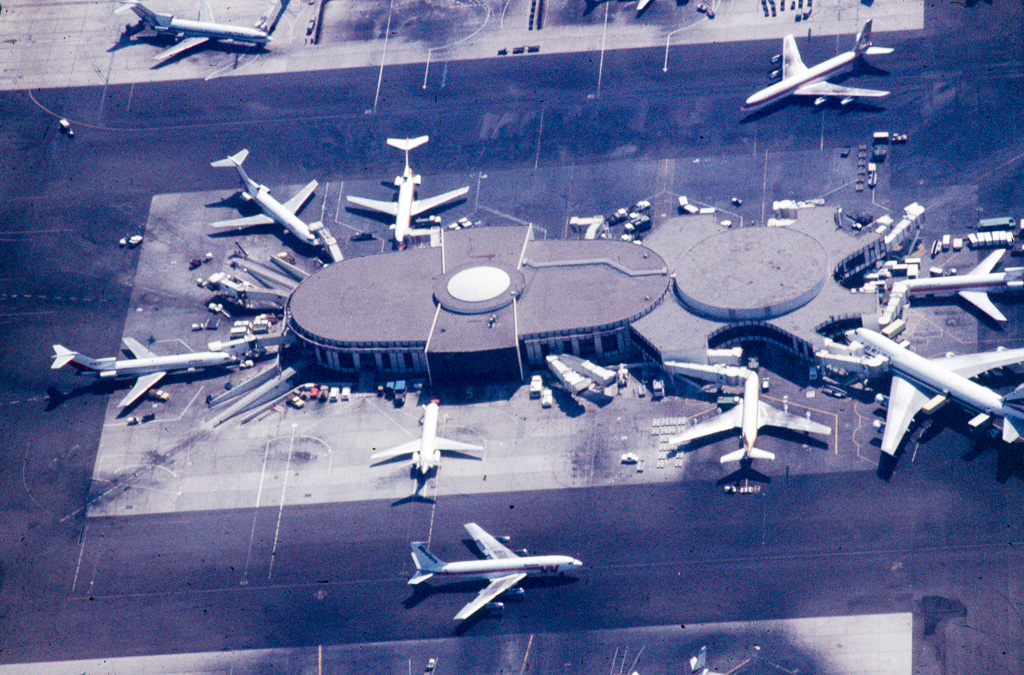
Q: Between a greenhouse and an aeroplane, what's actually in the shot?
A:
aeroplane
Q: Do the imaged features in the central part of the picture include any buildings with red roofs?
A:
No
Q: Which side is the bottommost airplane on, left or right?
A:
right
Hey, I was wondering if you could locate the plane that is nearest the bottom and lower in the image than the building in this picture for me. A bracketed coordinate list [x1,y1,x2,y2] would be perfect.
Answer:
[682,644,739,675]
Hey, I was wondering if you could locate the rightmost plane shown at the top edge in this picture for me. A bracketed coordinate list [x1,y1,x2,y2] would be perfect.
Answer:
[743,20,897,117]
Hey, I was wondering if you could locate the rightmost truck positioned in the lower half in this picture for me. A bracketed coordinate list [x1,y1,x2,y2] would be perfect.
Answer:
[962,416,995,448]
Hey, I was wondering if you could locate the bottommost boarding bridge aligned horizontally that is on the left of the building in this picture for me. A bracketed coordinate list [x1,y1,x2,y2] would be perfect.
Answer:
[204,330,290,363]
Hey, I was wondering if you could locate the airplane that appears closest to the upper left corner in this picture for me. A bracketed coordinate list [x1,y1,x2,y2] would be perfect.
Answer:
[110,0,272,59]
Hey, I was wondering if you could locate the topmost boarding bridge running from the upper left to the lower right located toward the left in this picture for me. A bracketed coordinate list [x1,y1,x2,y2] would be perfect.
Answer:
[309,221,344,263]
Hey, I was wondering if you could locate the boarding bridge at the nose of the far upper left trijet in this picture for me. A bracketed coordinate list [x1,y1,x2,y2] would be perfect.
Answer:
[259,0,286,33]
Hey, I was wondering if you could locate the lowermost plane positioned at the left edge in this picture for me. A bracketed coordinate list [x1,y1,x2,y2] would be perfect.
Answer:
[49,335,235,408]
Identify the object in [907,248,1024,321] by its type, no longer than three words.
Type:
airplane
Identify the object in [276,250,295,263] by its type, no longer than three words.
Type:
vehicle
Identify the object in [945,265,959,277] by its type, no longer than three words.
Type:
vehicle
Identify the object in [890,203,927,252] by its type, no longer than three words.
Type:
jet bridge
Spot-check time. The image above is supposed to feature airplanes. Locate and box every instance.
[670,374,834,468]
[346,137,470,248]
[209,151,318,245]
[845,326,1024,460]
[907,248,1024,321]
[110,0,272,59]
[49,335,235,408]
[406,522,583,622]
[682,644,739,675]
[743,20,897,117]
[372,400,485,475]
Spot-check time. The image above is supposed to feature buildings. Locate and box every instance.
[282,206,895,391]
